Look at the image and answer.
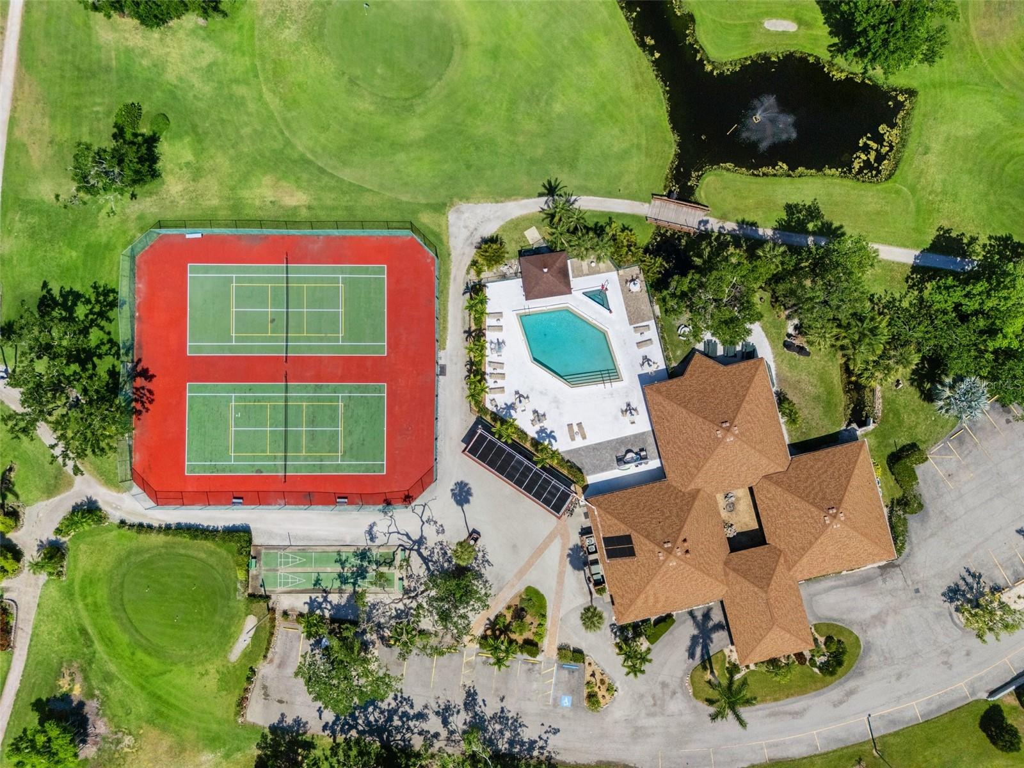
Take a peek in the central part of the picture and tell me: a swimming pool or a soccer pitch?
swimming pool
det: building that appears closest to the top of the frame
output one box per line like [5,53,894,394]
[519,251,573,301]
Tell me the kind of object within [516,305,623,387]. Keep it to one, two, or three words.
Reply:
swimming pool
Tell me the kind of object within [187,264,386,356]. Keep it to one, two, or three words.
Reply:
tennis court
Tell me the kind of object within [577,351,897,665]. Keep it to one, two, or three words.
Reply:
building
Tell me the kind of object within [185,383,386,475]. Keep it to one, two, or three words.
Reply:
tennis court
